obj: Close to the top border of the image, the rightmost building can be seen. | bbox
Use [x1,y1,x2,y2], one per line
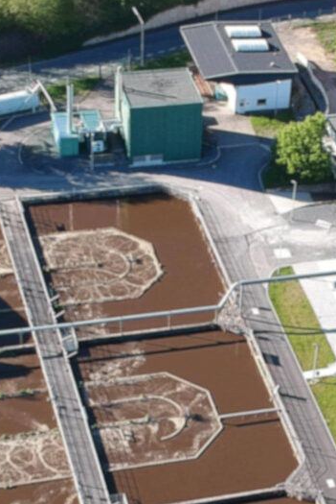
[180,21,298,108]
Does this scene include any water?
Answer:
Yes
